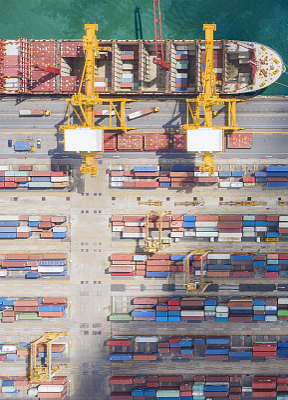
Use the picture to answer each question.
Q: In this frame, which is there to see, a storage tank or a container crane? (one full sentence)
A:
I can see a container crane in this picture.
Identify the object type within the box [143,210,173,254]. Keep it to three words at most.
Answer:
container crane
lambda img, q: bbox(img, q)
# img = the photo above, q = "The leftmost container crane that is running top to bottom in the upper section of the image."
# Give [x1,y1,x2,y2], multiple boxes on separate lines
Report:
[61,20,134,176]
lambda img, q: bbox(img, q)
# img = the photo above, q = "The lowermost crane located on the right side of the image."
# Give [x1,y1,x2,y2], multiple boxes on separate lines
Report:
[186,248,214,295]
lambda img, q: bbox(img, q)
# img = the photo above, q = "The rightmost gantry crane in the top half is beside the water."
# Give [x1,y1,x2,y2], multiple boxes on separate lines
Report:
[181,20,244,176]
